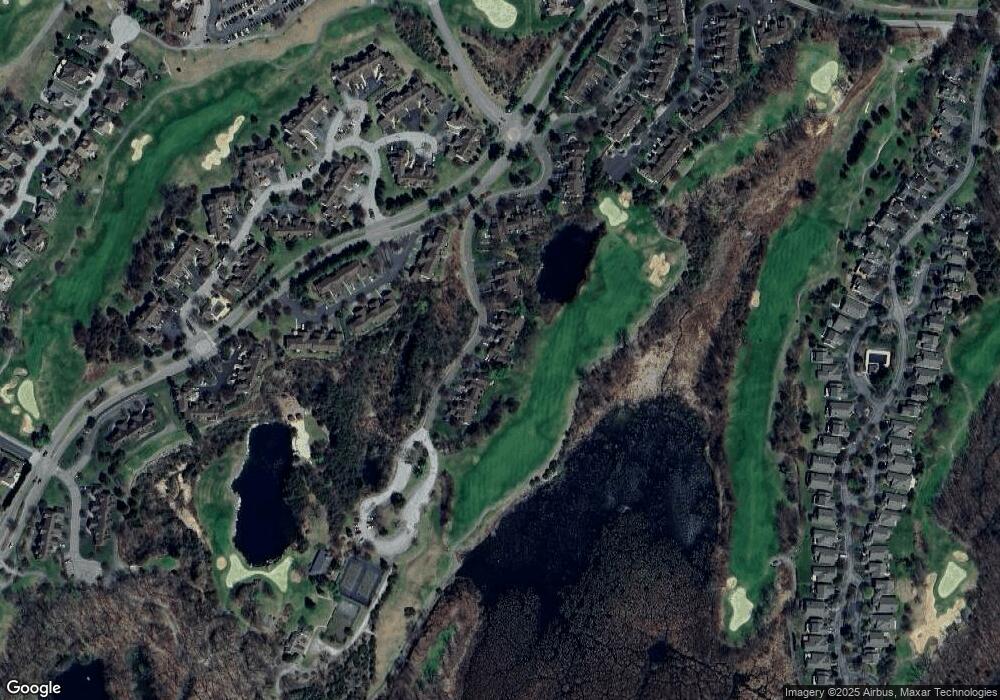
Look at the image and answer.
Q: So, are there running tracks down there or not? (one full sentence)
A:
No, I can see no running track in this picture.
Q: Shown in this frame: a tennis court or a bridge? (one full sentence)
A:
I can see a tennis court in this picture.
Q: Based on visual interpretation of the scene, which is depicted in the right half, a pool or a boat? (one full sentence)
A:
The feature located in the right half is a pool.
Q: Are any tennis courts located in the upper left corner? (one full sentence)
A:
No, looking in the upper left corner, there is no tennis court.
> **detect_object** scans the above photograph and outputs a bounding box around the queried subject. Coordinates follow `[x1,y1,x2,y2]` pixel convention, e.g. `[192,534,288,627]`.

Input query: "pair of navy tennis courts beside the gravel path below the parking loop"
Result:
[340,557,382,605]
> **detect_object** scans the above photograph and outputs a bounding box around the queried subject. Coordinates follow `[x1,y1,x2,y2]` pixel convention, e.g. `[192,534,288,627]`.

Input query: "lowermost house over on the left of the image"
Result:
[289,630,311,653]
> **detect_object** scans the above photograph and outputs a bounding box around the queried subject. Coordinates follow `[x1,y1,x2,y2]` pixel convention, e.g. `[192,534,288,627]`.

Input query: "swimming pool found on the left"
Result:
[209,299,230,320]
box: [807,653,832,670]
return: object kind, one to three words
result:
house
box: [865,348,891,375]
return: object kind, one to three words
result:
swimming pool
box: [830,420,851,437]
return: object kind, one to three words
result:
house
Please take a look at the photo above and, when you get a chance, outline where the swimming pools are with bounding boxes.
[209,299,230,320]
[865,348,891,375]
